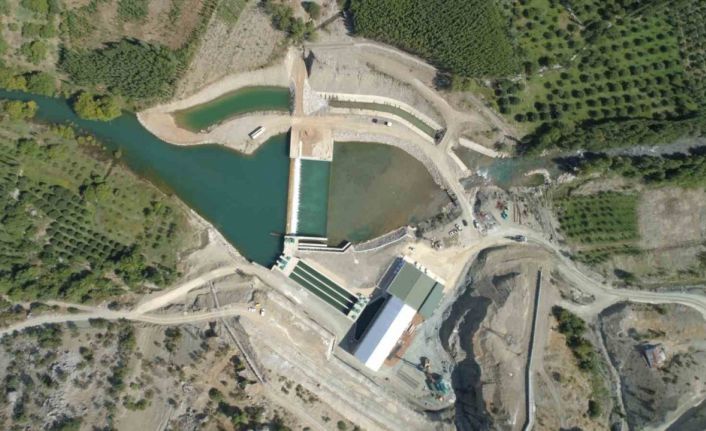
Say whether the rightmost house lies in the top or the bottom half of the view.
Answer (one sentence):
It is in the bottom half that the rightmost house appears.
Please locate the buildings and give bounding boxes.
[645,343,665,368]
[354,254,446,372]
